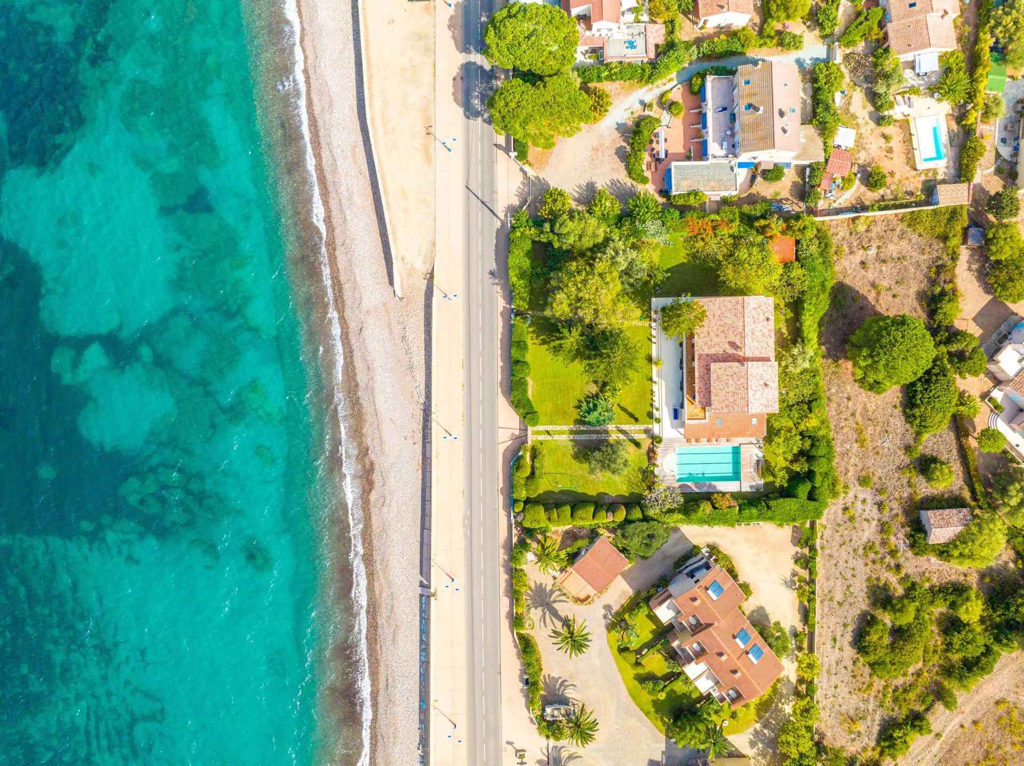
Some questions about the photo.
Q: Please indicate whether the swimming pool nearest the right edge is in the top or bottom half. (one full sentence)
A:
The top half of the photo is where the swimming pool nearest the right edge is.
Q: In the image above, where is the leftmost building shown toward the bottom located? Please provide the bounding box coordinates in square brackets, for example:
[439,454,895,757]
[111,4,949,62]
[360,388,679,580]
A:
[556,535,629,604]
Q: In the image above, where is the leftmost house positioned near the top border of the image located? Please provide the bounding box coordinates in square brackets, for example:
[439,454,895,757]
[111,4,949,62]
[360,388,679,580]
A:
[570,0,665,65]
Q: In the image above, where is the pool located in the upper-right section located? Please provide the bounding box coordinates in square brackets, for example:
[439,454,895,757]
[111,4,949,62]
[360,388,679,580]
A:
[910,110,951,170]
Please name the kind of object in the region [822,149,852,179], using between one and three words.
shed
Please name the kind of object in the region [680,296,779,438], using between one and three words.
house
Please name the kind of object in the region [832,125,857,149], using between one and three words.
umbrella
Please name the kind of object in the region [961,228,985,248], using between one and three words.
shed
